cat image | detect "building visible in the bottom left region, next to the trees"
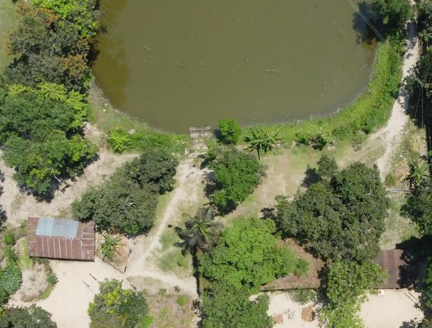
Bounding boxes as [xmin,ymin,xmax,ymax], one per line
[29,218,97,260]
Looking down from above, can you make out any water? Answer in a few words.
Yes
